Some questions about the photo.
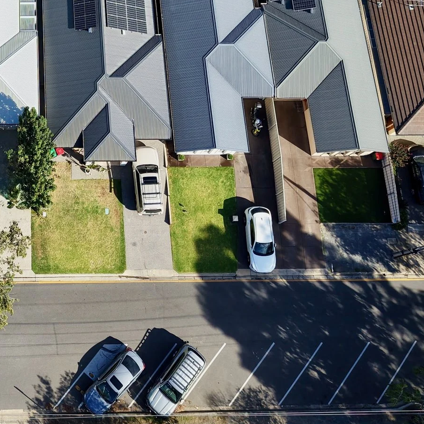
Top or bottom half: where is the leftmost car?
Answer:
bottom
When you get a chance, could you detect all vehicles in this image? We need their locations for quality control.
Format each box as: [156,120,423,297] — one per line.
[401,141,424,208]
[241,207,280,275]
[148,339,207,423]
[252,102,268,136]
[86,344,142,419]
[133,146,167,216]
